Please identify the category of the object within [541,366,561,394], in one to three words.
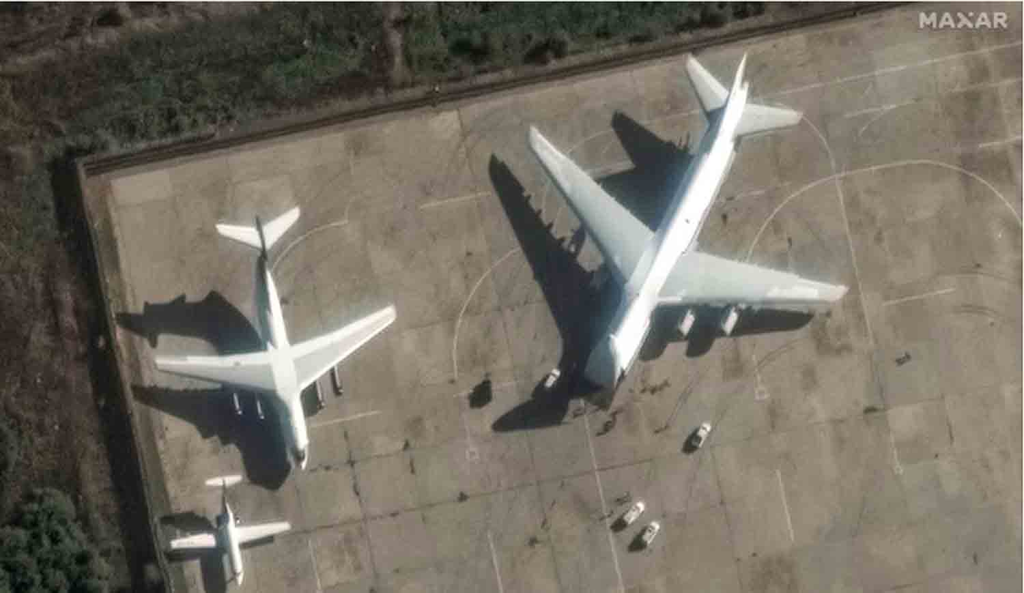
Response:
vehicle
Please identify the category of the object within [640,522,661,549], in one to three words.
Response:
truck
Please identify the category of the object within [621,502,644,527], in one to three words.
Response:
truck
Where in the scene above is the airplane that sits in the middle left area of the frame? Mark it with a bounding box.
[154,206,394,470]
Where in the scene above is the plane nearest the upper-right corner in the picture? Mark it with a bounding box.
[526,53,848,411]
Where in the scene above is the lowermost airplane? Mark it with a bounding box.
[171,475,292,586]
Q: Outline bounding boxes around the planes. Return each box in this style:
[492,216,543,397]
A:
[526,53,848,411]
[154,206,394,470]
[171,475,292,586]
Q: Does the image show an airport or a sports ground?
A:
airport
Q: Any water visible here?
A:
No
